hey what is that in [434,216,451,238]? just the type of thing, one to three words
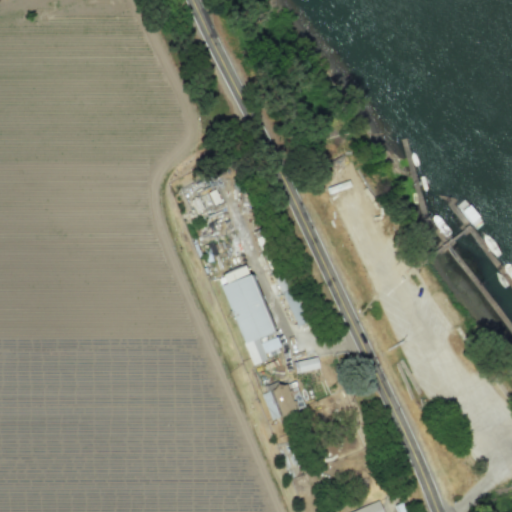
boat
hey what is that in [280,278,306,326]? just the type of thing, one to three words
shed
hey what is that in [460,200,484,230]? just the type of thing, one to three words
boat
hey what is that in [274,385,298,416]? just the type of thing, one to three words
house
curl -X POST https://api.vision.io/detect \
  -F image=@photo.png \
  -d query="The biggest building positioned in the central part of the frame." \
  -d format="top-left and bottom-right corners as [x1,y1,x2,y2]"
[223,274,276,343]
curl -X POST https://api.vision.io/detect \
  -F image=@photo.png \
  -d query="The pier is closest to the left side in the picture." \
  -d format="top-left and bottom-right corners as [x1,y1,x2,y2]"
[402,138,428,216]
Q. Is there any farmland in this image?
Yes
